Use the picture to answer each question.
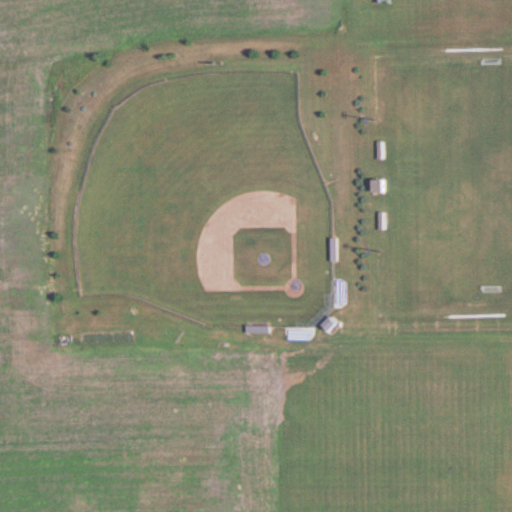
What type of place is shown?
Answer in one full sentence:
It's a sports ground.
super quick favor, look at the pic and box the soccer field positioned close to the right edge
[386,63,512,314]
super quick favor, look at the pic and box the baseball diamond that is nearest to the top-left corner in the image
[76,72,334,327]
